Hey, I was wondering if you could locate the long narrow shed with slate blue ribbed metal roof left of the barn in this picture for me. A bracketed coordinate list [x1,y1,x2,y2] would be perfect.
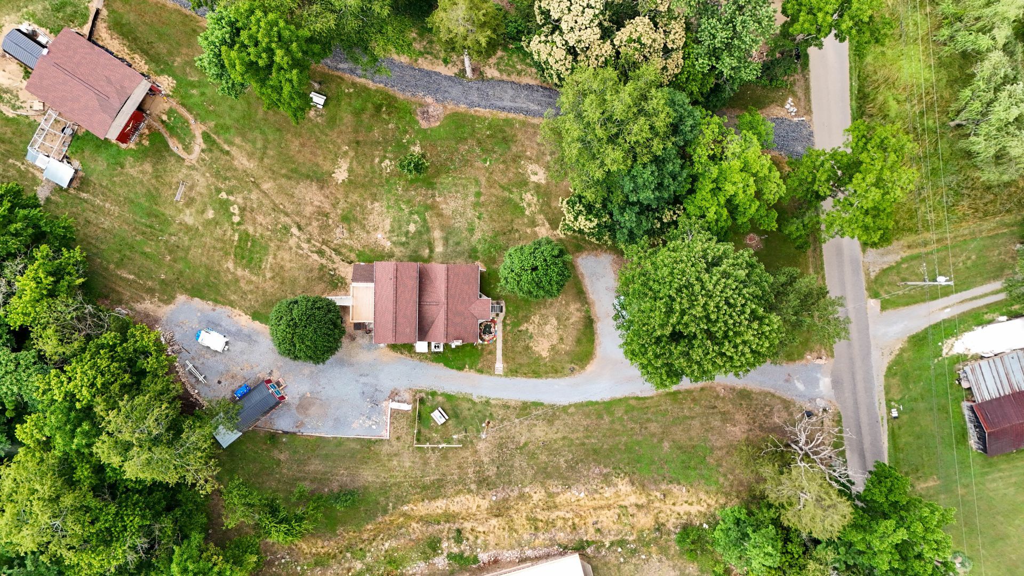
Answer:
[2,29,44,69]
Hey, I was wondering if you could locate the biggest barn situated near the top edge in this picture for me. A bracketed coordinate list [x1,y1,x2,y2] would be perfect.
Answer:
[26,27,160,144]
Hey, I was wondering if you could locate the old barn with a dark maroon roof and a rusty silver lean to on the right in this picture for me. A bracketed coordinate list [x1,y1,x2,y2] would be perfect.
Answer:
[951,348,1024,457]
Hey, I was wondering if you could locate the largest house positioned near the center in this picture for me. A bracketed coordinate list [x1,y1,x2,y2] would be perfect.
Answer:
[351,261,492,347]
